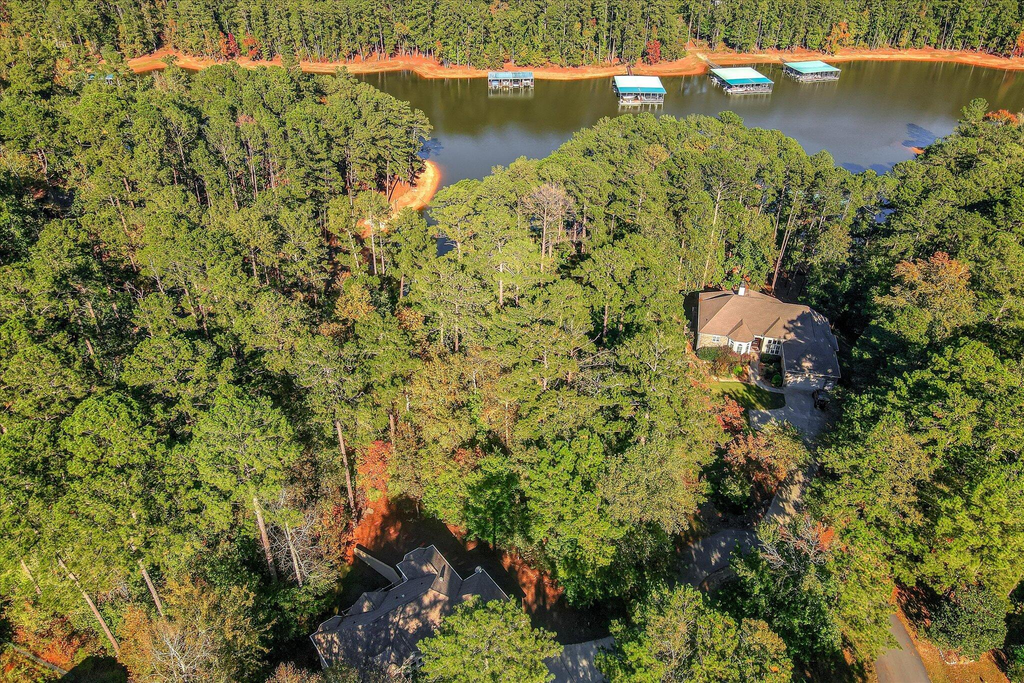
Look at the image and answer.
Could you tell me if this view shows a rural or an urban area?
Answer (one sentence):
The land in this view is best described as rural.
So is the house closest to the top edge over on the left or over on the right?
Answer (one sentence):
The house closest to the top edge sits on the right side.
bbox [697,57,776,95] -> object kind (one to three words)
pier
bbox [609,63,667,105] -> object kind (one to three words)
pier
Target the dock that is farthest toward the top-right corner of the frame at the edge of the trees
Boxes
[771,56,842,83]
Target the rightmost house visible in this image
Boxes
[697,285,846,395]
